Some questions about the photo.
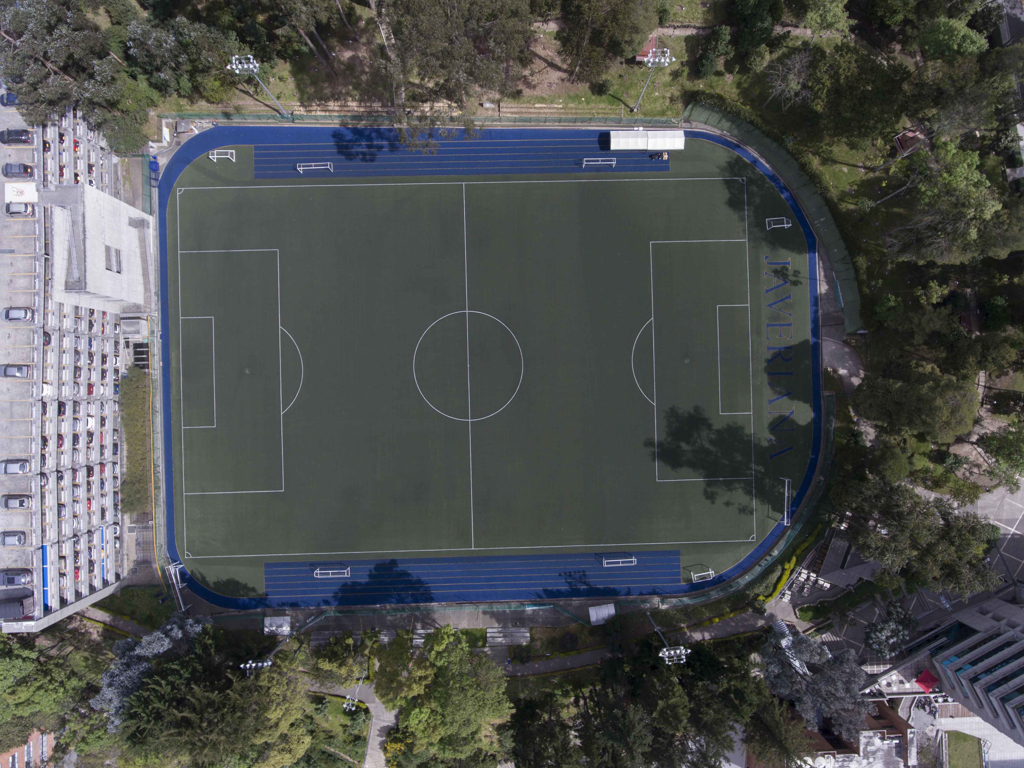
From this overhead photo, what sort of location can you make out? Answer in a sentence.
What you see here is a sports ground.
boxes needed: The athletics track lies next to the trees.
[158,126,822,609]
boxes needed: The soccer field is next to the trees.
[167,138,813,598]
